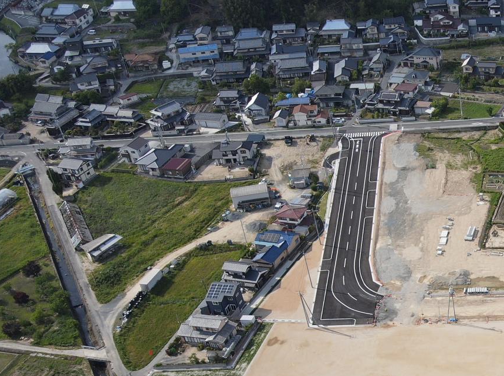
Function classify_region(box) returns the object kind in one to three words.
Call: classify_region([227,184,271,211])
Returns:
building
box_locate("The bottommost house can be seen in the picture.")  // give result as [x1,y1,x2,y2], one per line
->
[171,309,252,353]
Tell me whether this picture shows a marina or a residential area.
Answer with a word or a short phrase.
residential area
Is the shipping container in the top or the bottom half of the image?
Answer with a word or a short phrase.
bottom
